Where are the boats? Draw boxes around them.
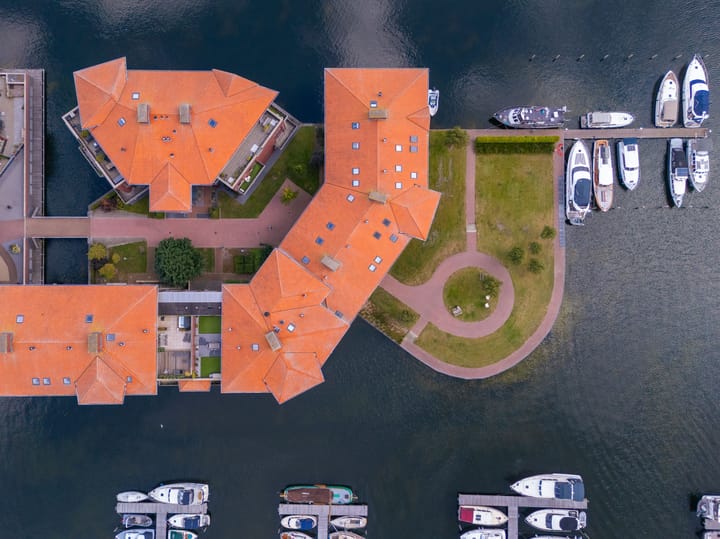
[429,89,439,116]
[685,137,714,206]
[579,511,588,526]
[330,514,367,539]
[458,505,508,526]
[701,529,720,539]
[461,526,507,539]
[115,527,155,539]
[148,481,212,505]
[486,106,573,131]
[561,138,590,227]
[572,111,641,130]
[652,70,681,129]
[167,512,210,530]
[117,491,148,502]
[281,529,314,539]
[591,138,613,212]
[330,528,366,539]
[168,528,197,539]
[678,55,708,129]
[120,513,152,528]
[692,493,720,519]
[666,137,690,208]
[526,508,579,532]
[614,137,642,207]
[281,514,317,531]
[510,473,586,502]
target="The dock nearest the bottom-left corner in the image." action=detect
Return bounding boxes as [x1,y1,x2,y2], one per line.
[112,502,209,539]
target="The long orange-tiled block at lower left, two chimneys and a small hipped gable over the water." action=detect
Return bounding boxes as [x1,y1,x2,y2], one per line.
[0,285,163,404]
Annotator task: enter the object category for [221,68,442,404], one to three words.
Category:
building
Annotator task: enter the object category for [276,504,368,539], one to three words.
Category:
pier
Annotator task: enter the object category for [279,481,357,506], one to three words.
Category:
vessel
